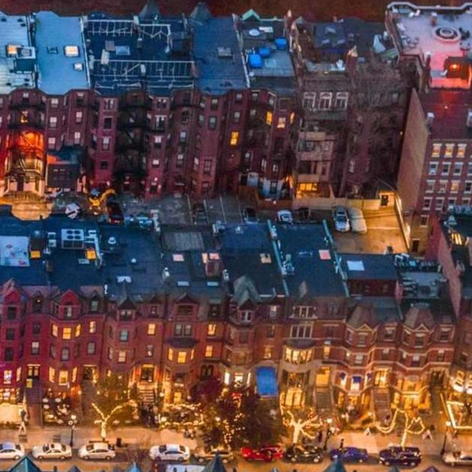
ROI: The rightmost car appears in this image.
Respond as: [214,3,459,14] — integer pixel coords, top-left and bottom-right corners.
[441,451,472,470]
